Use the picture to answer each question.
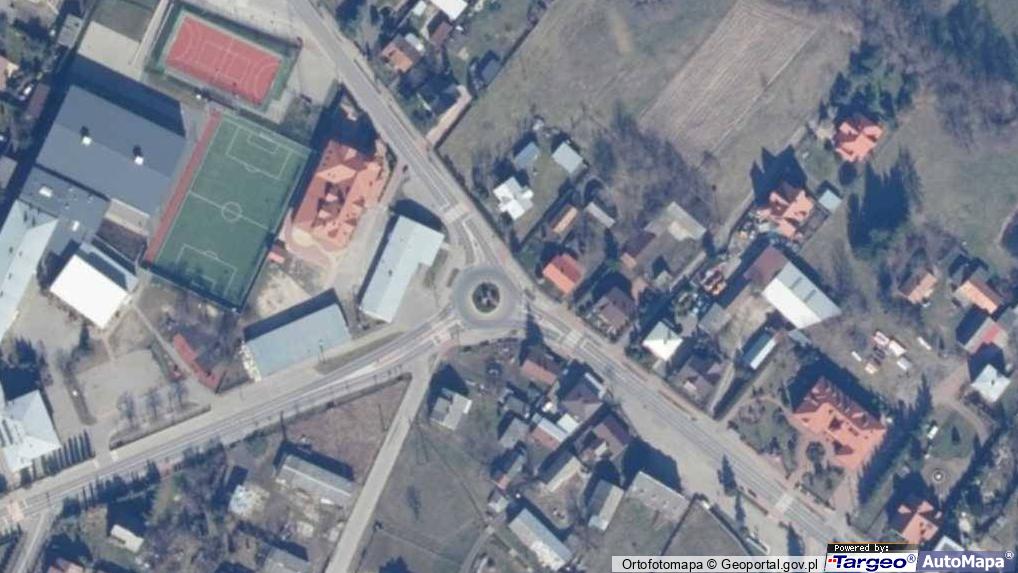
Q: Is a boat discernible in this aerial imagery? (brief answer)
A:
No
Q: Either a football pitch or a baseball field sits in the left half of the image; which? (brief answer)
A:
football pitch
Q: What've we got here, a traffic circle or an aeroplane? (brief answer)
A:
traffic circle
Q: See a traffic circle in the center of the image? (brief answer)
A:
Yes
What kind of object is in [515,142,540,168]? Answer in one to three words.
shed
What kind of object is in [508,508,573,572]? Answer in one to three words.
barn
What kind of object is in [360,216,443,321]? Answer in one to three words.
building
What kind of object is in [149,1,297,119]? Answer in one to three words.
sports court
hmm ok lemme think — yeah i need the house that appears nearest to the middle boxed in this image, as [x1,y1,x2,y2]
[543,253,585,294]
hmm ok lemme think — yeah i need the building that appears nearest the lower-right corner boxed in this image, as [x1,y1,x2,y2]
[934,537,969,571]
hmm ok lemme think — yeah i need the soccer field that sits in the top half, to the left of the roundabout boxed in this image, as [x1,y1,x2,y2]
[142,108,311,309]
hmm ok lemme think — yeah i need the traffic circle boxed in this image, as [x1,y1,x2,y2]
[453,265,519,330]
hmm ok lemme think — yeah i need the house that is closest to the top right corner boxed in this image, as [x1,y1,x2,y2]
[837,116,886,162]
